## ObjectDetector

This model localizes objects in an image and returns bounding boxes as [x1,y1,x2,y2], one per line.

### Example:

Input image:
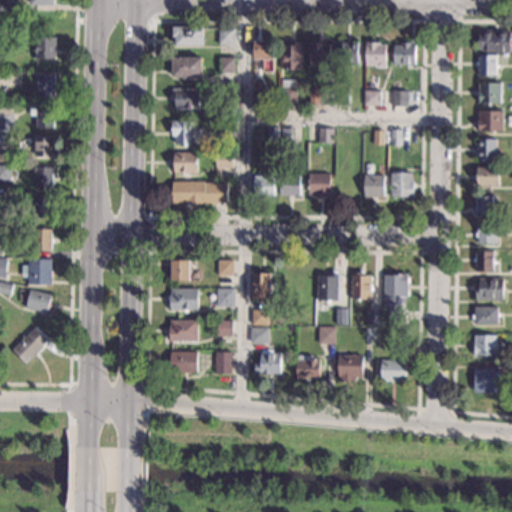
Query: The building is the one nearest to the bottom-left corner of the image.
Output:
[13,327,52,364]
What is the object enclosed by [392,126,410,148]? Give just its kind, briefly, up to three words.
building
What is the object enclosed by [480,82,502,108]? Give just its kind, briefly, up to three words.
house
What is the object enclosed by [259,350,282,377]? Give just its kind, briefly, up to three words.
house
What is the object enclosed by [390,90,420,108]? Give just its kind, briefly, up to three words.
building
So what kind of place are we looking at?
residential area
